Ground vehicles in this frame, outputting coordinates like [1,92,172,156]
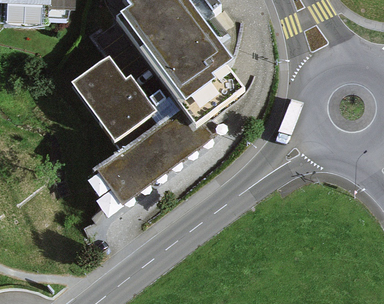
[274,99,303,146]
[135,70,154,87]
[92,236,113,254]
